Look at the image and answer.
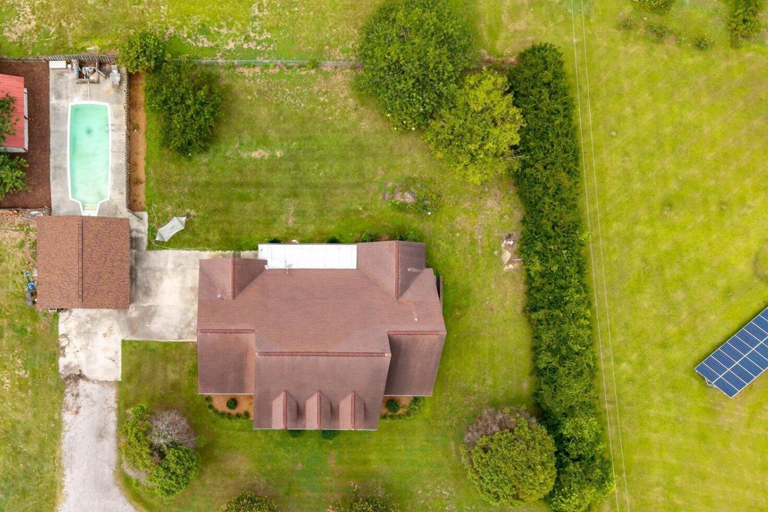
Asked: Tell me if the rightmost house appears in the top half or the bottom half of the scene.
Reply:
bottom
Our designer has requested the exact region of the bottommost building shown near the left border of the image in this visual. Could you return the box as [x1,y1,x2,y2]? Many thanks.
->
[36,214,131,309]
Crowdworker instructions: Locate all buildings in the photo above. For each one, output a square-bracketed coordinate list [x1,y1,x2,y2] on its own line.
[36,214,131,309]
[196,240,444,430]
[0,73,28,152]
